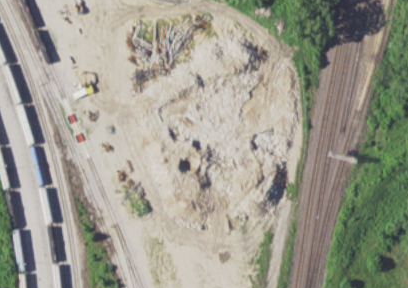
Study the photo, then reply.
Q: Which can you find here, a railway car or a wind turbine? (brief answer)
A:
railway car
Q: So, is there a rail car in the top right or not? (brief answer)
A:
No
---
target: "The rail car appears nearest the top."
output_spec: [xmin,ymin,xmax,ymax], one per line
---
[19,0,38,28]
